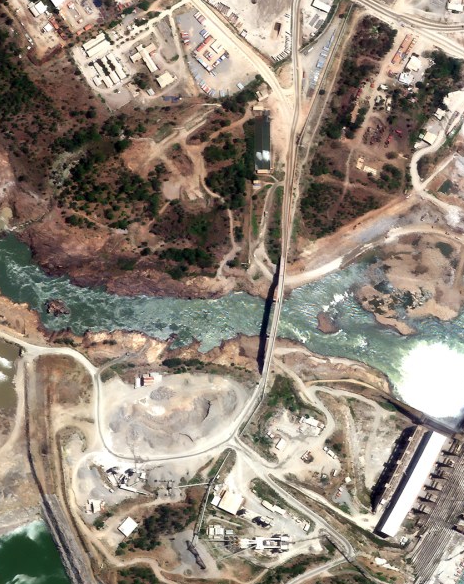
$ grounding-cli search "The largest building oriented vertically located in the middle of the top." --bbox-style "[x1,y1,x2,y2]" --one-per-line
[254,114,269,175]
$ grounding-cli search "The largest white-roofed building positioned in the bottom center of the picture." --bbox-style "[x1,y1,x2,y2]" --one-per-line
[218,491,244,515]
